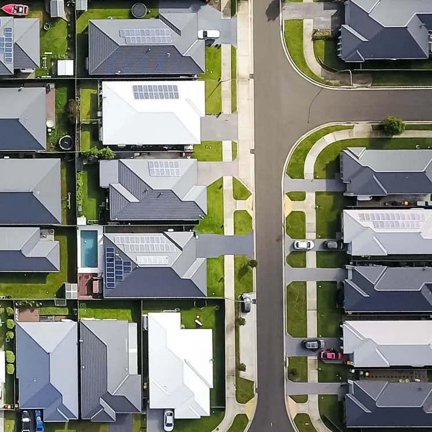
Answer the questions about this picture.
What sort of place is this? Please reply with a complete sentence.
The area seen from above is a residential area.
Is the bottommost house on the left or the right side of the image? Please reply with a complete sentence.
You can find the bottommost house on the right side of the picture.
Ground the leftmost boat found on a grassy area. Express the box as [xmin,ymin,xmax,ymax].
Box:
[0,3,31,16]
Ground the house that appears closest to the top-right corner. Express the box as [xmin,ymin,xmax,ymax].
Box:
[330,0,432,62]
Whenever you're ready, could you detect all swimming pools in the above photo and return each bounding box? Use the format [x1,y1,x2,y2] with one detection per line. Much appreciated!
[79,230,99,269]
